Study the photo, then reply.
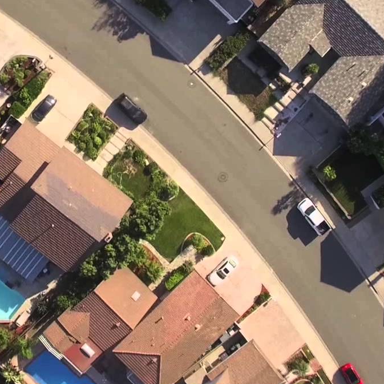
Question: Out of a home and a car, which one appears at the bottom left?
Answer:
home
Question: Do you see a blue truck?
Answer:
No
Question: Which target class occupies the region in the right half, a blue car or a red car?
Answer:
red car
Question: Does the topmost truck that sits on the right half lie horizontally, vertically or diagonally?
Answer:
diagonally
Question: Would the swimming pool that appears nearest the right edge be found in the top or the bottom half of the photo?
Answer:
bottom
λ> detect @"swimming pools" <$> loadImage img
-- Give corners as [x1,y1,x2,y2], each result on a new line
[0,268,28,324]
[22,343,93,384]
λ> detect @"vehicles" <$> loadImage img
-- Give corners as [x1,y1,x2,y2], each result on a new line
[114,91,150,126]
[206,254,241,288]
[296,196,336,239]
[29,90,59,126]
[338,360,362,384]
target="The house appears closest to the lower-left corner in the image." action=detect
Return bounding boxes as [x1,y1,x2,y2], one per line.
[39,270,157,374]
